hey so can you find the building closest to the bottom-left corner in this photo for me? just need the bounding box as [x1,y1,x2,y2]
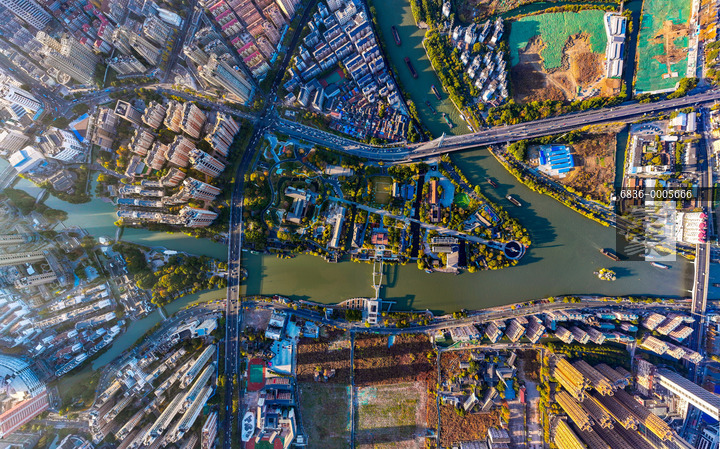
[0,384,67,434]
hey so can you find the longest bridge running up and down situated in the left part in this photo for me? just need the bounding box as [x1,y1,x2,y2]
[226,200,242,386]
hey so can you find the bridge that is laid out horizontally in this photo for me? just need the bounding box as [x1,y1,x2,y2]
[263,84,720,160]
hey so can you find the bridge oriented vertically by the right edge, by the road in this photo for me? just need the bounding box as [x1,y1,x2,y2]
[689,233,710,347]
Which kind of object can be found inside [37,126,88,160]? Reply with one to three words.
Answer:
building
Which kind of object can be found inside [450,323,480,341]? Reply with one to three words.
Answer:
building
